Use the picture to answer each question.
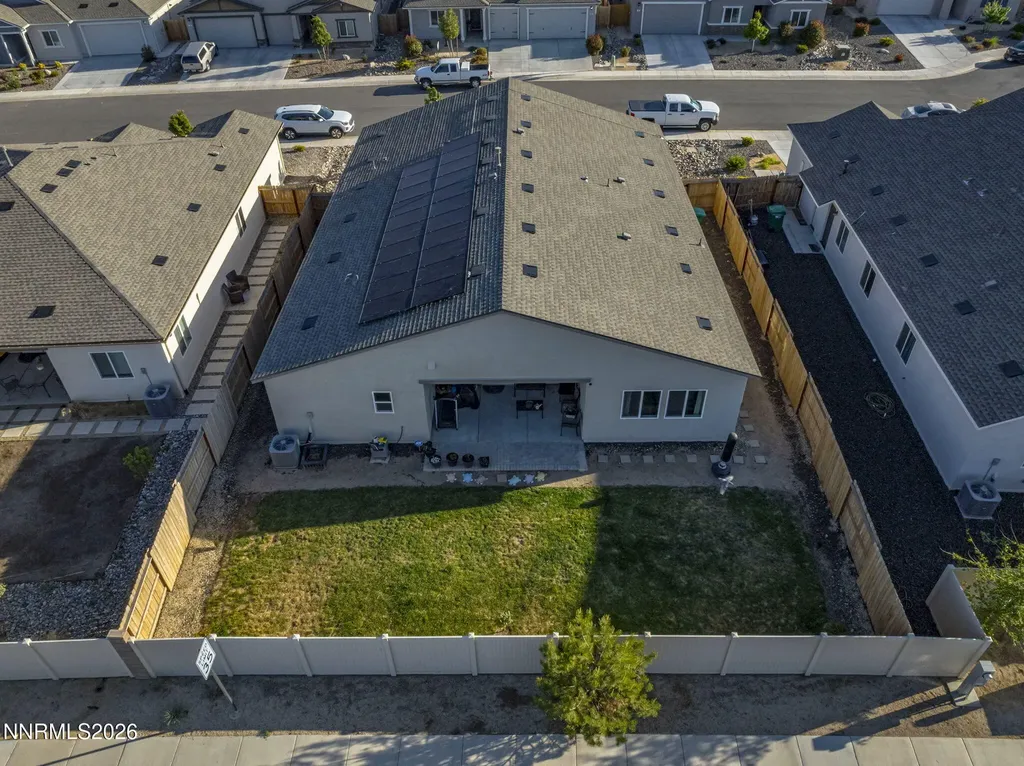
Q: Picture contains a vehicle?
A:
Yes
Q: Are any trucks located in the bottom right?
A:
No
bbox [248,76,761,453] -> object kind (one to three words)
house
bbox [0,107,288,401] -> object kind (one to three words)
house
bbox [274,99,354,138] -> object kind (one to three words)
car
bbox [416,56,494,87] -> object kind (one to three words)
truck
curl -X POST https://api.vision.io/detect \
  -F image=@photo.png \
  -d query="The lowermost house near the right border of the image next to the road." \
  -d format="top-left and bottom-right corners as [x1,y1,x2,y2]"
[790,91,1024,493]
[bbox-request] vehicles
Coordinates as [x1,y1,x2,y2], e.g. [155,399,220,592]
[893,101,961,120]
[274,99,354,138]
[1006,38,1024,59]
[624,92,721,130]
[416,56,494,87]
[179,37,220,68]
